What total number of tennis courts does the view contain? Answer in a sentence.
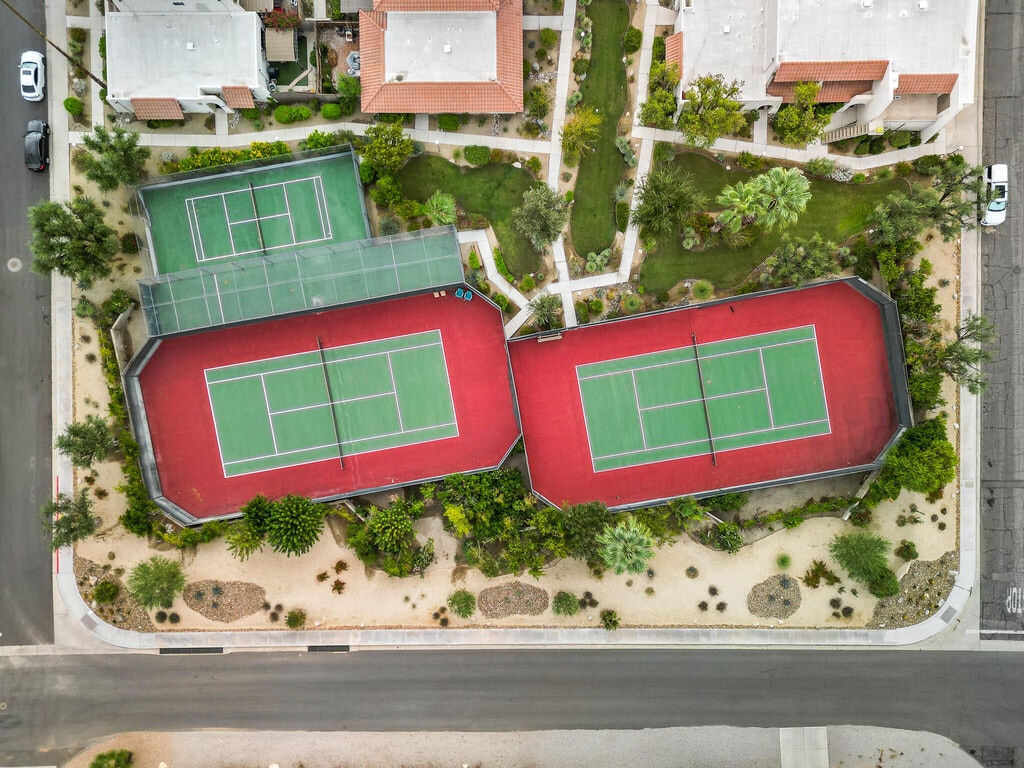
Looking from above, you can make out 3 tennis courts.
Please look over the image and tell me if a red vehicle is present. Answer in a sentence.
No, I can see no red vehicle in this picture.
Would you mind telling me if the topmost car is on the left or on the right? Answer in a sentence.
You can find the topmost car on the left side of the picture.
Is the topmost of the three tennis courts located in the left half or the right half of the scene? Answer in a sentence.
The topmost of the three tennis courts is on the left side of the image.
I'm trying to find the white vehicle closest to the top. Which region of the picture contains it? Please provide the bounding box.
[18,53,46,101]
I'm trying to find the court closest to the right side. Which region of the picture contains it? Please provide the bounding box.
[510,282,900,514]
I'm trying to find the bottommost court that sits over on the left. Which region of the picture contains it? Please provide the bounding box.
[138,287,520,519]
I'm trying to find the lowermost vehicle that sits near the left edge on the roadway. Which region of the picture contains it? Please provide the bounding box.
[21,122,49,170]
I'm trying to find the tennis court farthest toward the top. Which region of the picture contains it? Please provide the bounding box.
[141,153,465,334]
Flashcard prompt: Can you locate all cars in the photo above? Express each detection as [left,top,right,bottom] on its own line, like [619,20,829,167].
[21,122,49,170]
[18,53,46,101]
[979,167,1009,227]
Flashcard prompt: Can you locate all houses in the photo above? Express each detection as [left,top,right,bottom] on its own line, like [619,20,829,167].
[107,13,270,119]
[768,0,975,147]
[360,0,524,116]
